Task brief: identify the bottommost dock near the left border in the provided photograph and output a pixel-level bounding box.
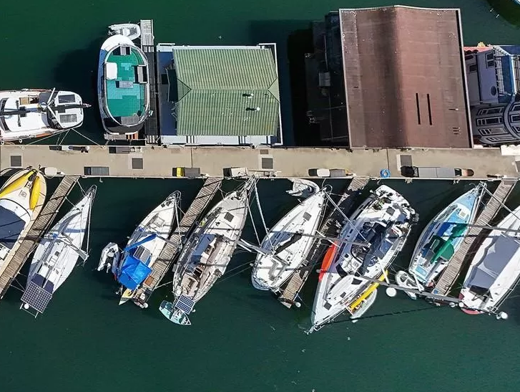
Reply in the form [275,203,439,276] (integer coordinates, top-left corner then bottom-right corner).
[0,177,76,304]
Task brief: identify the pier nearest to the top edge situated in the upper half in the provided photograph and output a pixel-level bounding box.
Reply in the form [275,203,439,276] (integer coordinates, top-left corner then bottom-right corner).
[138,19,155,143]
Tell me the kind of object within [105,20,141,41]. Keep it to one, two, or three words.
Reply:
boat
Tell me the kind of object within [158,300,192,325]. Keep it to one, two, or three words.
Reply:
boat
